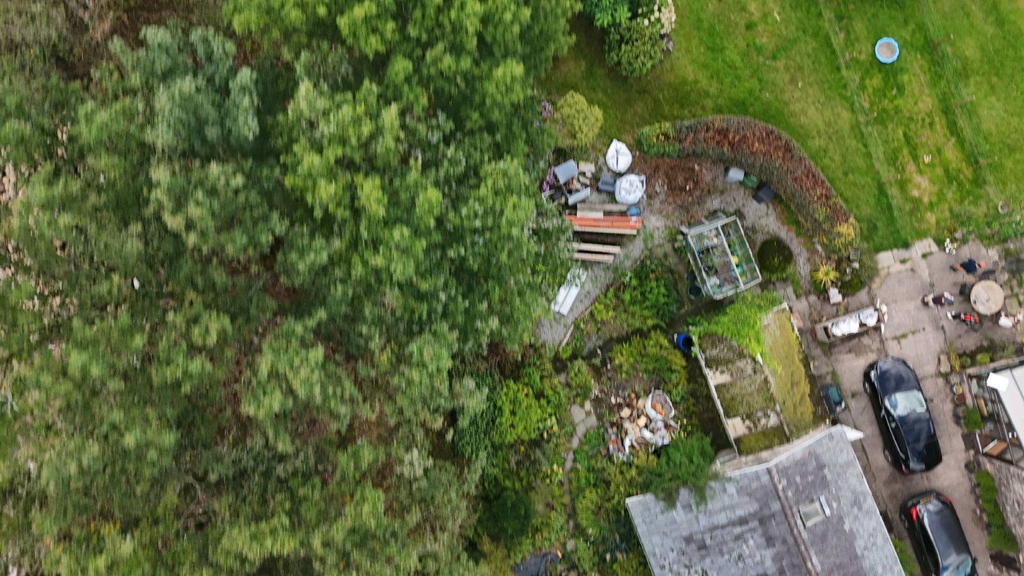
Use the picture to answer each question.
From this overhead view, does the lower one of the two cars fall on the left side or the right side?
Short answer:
right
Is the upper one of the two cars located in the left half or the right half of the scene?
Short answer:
right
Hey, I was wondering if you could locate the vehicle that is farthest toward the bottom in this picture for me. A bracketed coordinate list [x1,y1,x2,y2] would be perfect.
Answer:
[902,490,982,576]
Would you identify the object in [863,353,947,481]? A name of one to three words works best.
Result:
car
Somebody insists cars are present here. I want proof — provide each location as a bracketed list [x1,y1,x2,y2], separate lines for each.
[863,353,947,481]
[902,490,982,576]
